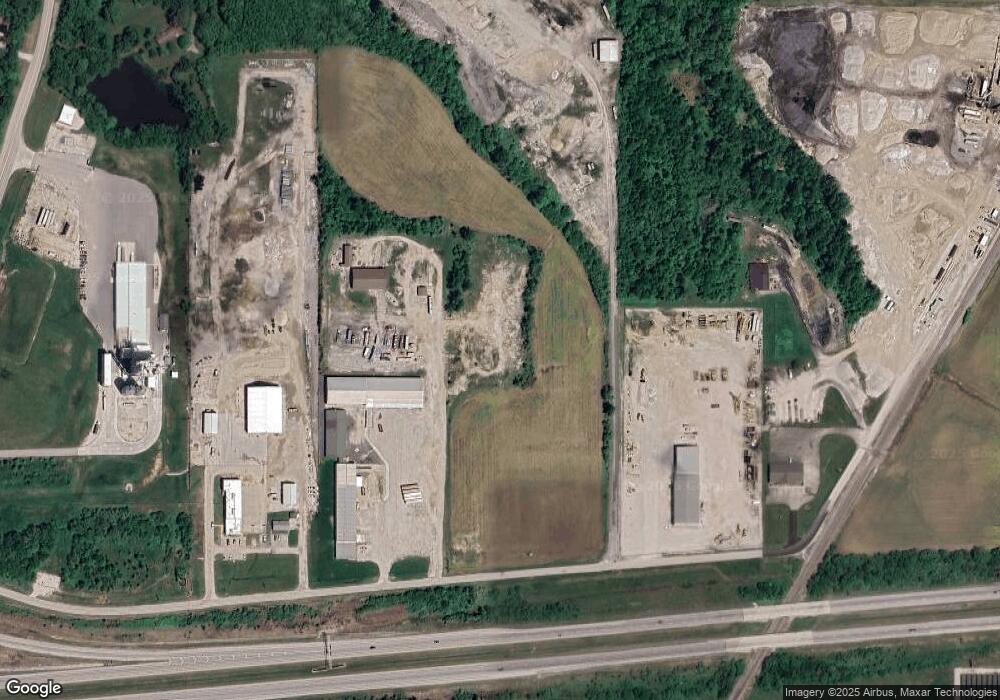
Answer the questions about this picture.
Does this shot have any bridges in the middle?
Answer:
No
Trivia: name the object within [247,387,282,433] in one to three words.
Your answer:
barn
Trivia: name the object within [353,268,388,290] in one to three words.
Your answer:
shed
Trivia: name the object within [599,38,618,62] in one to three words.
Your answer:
building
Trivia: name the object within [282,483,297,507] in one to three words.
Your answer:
building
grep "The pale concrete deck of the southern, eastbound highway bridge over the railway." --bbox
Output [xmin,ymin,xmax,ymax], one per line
[725,632,814,655]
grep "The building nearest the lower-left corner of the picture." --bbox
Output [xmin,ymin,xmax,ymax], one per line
[226,479,241,535]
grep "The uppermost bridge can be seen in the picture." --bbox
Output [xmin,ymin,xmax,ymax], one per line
[742,600,832,623]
